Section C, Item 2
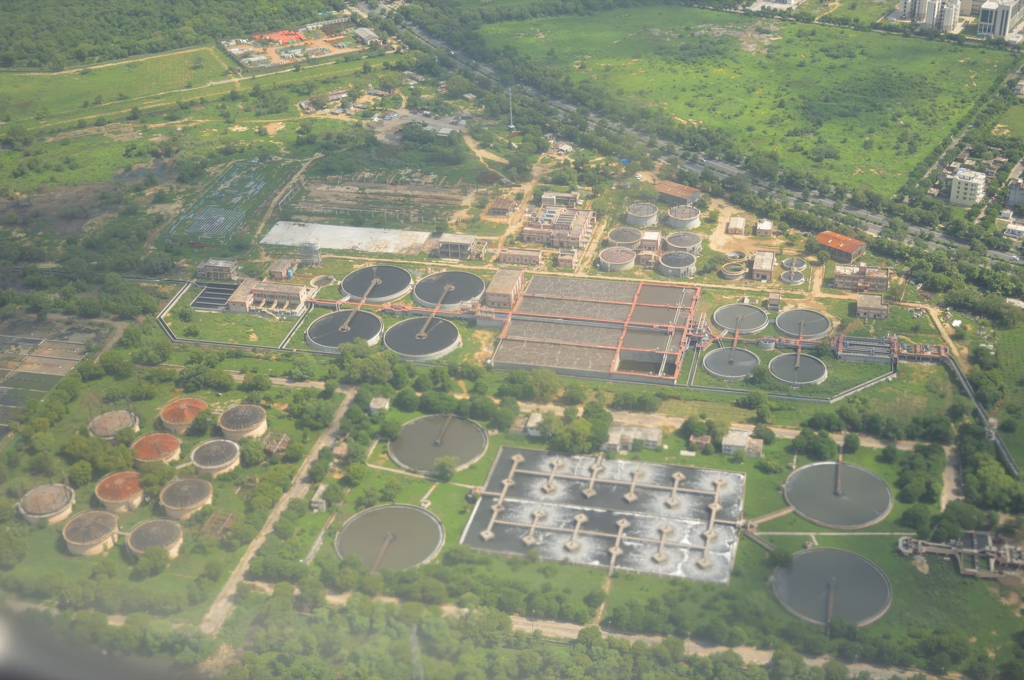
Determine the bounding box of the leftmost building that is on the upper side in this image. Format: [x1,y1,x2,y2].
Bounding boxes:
[196,257,239,281]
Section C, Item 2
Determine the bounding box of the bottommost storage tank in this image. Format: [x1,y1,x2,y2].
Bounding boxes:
[771,547,893,636]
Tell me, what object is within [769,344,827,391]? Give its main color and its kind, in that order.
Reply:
gray storage tank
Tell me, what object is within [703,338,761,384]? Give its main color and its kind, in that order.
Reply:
gray storage tank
